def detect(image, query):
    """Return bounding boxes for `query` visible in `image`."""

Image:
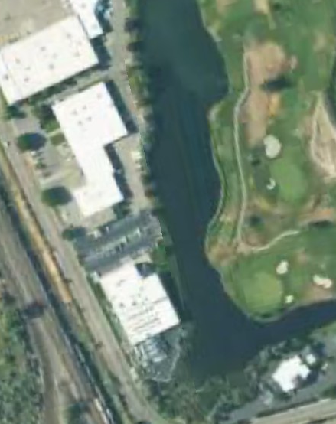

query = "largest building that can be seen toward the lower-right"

[274,356,310,393]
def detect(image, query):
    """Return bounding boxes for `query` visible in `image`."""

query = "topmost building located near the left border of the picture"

[0,16,98,104]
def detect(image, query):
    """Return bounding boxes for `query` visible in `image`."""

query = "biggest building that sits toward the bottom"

[99,261,179,346]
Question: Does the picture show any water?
Yes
